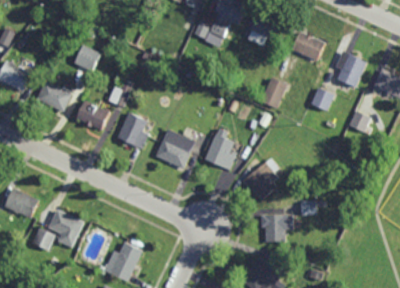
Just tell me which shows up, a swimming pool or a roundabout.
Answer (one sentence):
This aerial view contains a swimming pool.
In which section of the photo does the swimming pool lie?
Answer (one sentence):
The swimming pool is in the bottom left part of the image.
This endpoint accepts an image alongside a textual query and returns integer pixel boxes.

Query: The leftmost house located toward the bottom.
[4,189,40,218]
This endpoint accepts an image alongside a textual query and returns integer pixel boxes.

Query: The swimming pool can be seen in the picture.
[82,227,110,265]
